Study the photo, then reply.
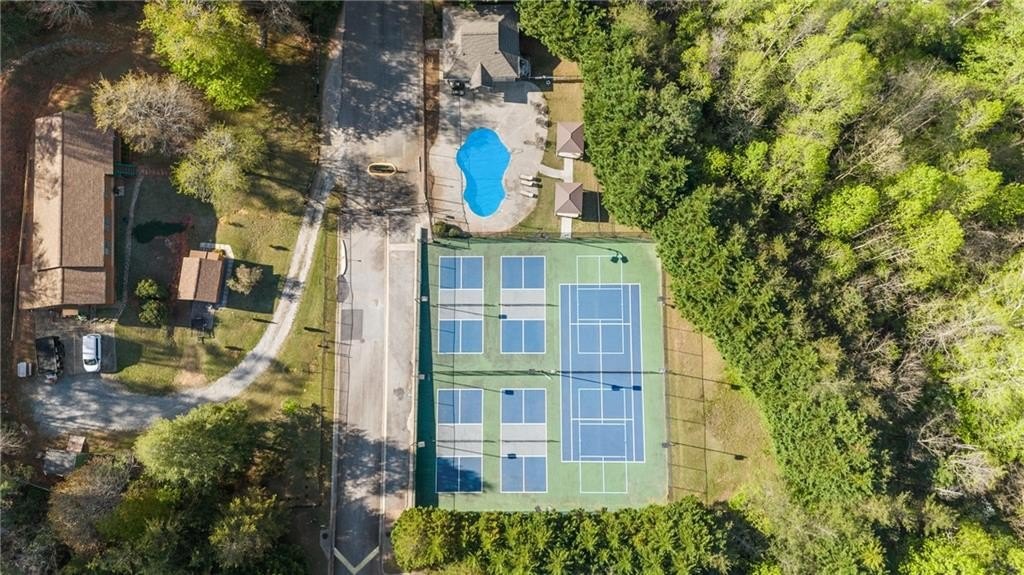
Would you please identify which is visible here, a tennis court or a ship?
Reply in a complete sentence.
There is a tennis court in the scene.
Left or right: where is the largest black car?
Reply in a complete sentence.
The largest black car sits on the left side.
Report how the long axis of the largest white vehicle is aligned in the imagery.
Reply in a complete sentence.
In this picture, the largest white vehicle is oriented from top to bottom.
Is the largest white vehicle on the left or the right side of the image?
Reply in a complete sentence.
You can find the largest white vehicle on the left side of the picture.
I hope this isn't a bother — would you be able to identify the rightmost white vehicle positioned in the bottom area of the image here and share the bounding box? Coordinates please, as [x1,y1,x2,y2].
[80,334,102,374]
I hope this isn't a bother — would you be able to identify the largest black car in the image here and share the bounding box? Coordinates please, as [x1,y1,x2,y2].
[37,337,61,380]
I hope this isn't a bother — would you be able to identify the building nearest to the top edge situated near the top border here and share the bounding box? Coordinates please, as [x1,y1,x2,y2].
[443,6,517,96]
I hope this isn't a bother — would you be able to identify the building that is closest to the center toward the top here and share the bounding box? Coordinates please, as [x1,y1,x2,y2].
[555,183,582,217]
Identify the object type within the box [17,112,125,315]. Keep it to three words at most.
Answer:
house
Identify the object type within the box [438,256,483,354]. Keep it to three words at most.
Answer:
sports court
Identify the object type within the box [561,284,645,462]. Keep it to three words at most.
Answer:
tennis court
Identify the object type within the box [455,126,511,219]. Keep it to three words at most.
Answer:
swimming pool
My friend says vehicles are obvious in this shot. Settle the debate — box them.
[80,334,102,374]
[37,337,61,380]
[14,361,33,378]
